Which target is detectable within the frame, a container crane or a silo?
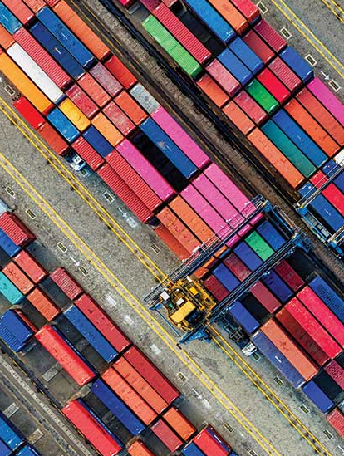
container crane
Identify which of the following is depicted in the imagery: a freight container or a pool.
freight container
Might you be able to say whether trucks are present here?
Yes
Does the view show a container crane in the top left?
No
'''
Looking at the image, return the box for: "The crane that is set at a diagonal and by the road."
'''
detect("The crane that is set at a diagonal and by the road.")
[130,186,310,348]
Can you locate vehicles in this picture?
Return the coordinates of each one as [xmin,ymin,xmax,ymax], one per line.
[215,307,259,356]
[64,148,87,171]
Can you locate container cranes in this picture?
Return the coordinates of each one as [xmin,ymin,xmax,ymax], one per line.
[290,153,344,255]
[130,186,310,348]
